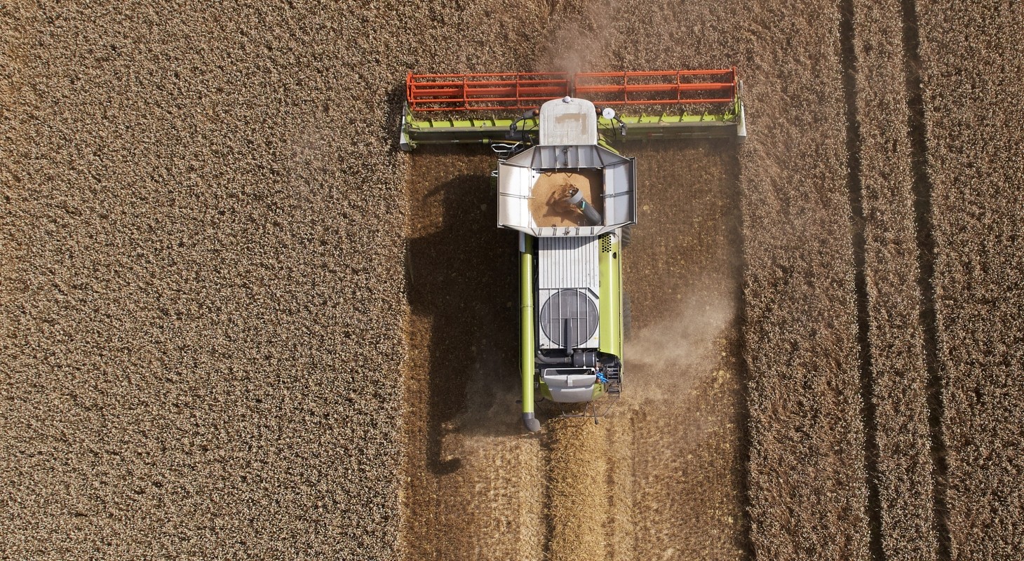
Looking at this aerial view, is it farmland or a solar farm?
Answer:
farmland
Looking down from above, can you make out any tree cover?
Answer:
No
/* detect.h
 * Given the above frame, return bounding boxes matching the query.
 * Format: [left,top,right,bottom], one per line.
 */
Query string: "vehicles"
[398,68,748,435]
